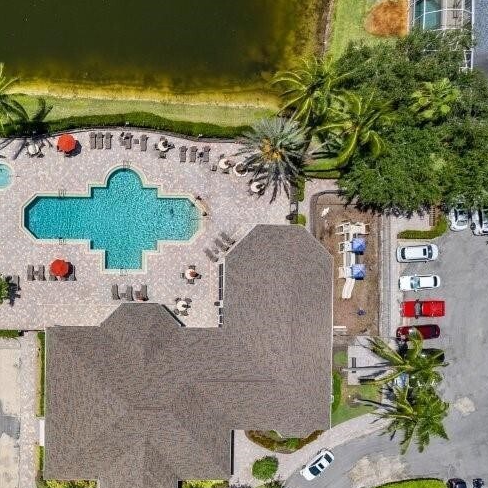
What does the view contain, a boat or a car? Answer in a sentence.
The one in the frame is a car.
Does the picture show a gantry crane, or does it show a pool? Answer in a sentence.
The one in the frame is a pool.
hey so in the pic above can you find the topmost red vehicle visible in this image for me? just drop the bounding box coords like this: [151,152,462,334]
[398,300,446,318]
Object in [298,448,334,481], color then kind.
white car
